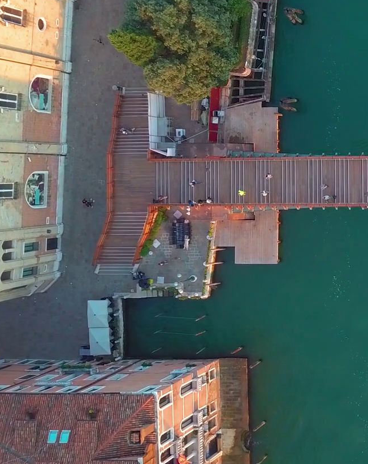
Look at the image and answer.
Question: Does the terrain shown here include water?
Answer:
Yes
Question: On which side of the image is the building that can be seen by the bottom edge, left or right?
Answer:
left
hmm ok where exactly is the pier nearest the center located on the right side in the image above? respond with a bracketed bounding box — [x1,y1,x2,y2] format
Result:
[217,212,282,263]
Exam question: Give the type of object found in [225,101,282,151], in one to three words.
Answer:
pier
